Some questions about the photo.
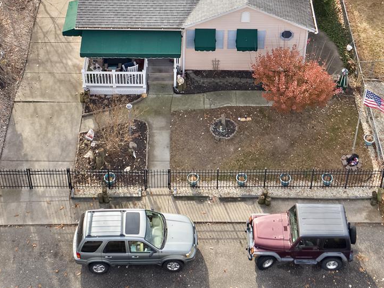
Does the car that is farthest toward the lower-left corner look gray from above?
Yes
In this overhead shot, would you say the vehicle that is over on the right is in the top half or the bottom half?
bottom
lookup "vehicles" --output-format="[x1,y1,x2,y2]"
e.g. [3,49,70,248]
[242,205,357,272]
[70,205,200,275]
